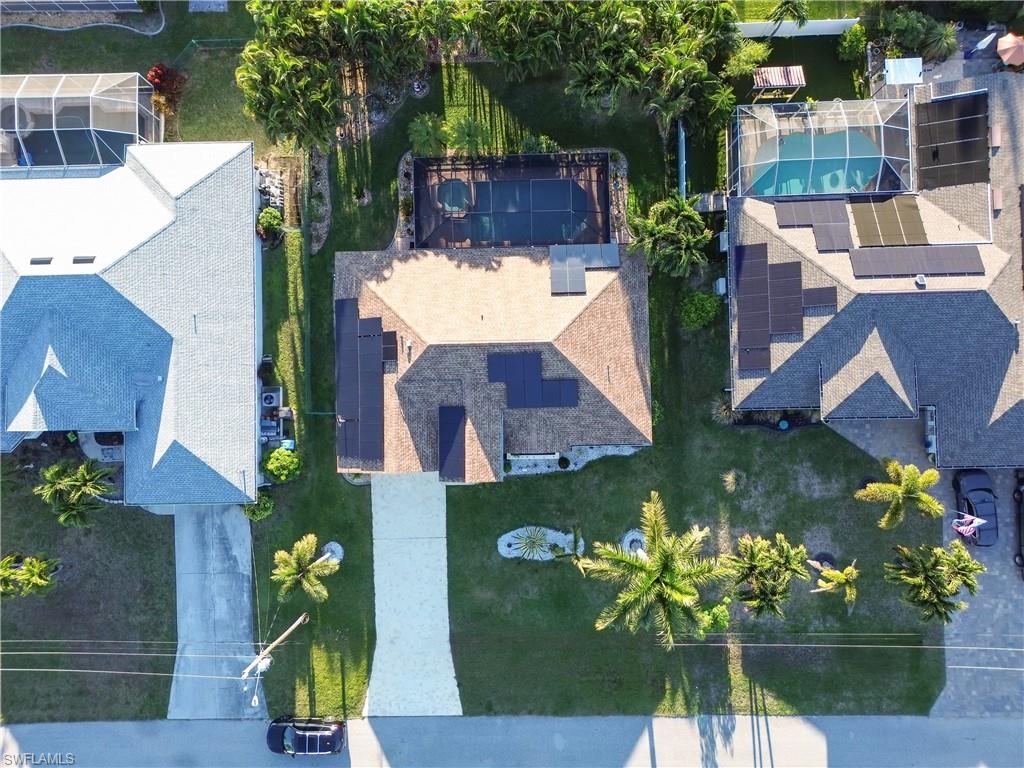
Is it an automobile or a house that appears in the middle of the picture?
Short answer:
house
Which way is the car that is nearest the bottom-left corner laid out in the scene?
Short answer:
horizontally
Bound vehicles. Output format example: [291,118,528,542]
[1012,478,1024,571]
[952,469,999,548]
[267,716,348,758]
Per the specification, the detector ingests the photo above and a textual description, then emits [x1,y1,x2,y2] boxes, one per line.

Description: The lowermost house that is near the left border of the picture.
[0,142,263,504]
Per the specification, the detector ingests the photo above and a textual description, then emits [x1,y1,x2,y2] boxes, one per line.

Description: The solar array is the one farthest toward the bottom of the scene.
[439,406,464,481]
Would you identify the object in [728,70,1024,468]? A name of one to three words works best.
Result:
house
